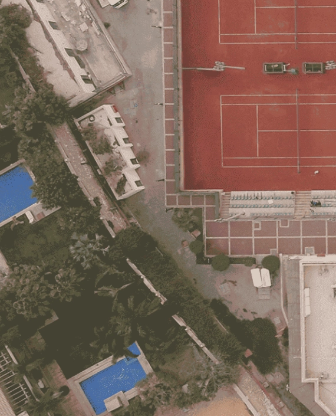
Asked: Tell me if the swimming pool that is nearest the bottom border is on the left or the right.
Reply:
left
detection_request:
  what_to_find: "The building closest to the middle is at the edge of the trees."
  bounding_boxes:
[75,105,156,211]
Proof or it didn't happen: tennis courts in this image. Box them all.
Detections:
[183,69,336,219]
[181,0,336,69]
